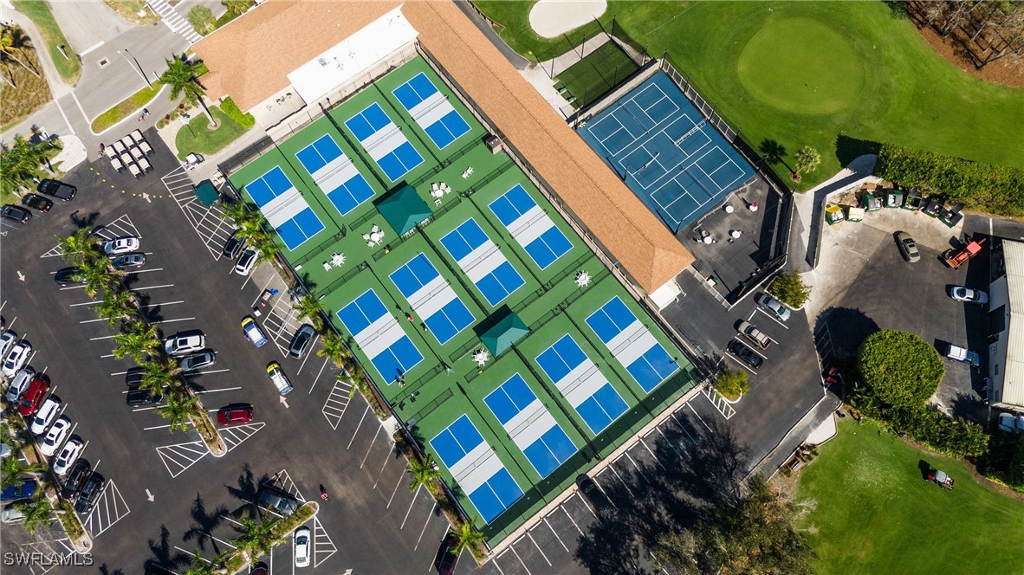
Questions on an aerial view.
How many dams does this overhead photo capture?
none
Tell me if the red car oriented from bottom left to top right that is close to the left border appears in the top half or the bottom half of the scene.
bottom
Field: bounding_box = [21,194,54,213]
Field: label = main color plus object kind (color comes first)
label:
black car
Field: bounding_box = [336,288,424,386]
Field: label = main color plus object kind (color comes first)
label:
blue sports court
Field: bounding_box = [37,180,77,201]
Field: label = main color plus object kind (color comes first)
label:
black truck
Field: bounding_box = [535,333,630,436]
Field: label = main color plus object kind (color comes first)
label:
blue sports court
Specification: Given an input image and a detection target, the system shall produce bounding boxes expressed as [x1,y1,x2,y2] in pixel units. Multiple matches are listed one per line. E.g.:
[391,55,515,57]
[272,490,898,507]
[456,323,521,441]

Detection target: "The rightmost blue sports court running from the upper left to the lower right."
[585,295,680,394]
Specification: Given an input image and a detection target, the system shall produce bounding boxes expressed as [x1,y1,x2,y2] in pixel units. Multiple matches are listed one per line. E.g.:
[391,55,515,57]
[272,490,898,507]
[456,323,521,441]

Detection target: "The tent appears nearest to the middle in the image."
[479,311,530,360]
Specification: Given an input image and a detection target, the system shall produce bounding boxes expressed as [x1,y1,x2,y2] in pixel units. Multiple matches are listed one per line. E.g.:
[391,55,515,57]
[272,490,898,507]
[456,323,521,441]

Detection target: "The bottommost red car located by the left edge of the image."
[18,378,51,415]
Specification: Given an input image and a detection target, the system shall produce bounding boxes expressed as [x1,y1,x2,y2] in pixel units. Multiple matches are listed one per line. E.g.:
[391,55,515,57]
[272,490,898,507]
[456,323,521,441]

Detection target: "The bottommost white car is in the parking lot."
[294,527,312,567]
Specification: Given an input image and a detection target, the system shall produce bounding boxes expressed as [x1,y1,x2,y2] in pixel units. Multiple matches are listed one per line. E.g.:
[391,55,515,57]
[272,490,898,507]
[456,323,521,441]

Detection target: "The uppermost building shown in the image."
[190,0,419,117]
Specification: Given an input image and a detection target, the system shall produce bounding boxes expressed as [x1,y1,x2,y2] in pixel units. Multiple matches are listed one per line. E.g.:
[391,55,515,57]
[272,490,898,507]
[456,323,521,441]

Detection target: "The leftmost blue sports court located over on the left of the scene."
[245,165,325,251]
